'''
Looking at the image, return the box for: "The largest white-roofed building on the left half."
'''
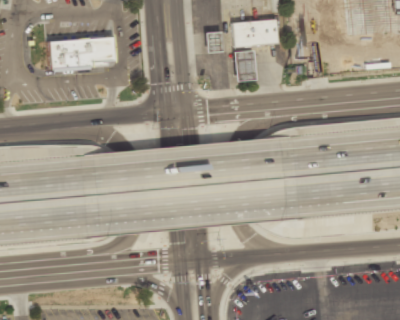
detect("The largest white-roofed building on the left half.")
[50,36,118,72]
